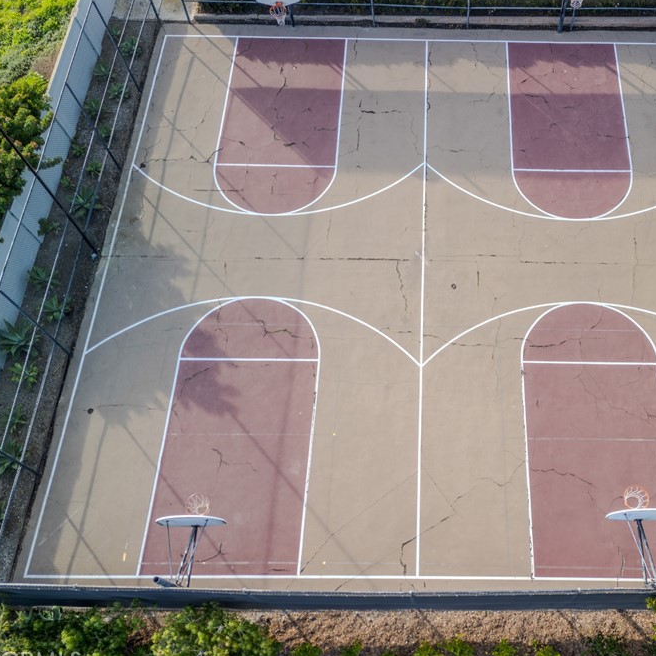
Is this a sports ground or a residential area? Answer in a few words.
sports ground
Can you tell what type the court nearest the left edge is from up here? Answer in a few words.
basketball court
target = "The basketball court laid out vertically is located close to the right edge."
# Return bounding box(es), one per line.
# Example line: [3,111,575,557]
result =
[416,28,656,597]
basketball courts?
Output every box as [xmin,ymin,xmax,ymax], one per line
[416,28,656,597]
[4,23,428,596]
